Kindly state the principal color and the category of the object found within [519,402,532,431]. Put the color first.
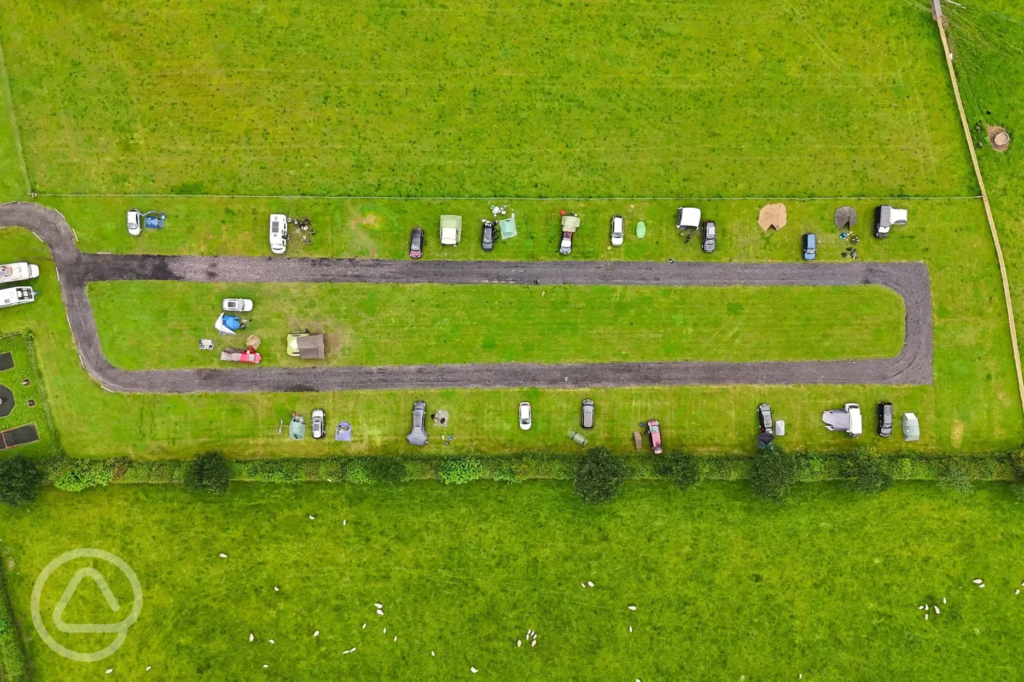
white vehicle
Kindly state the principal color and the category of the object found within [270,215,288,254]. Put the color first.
white vehicle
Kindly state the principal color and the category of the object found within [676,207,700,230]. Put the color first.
white gazebo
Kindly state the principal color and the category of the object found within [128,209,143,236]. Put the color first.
white car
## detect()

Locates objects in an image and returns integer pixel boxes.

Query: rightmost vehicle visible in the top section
[874,206,891,238]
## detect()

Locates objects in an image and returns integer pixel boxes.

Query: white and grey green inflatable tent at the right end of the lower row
[903,413,920,441]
